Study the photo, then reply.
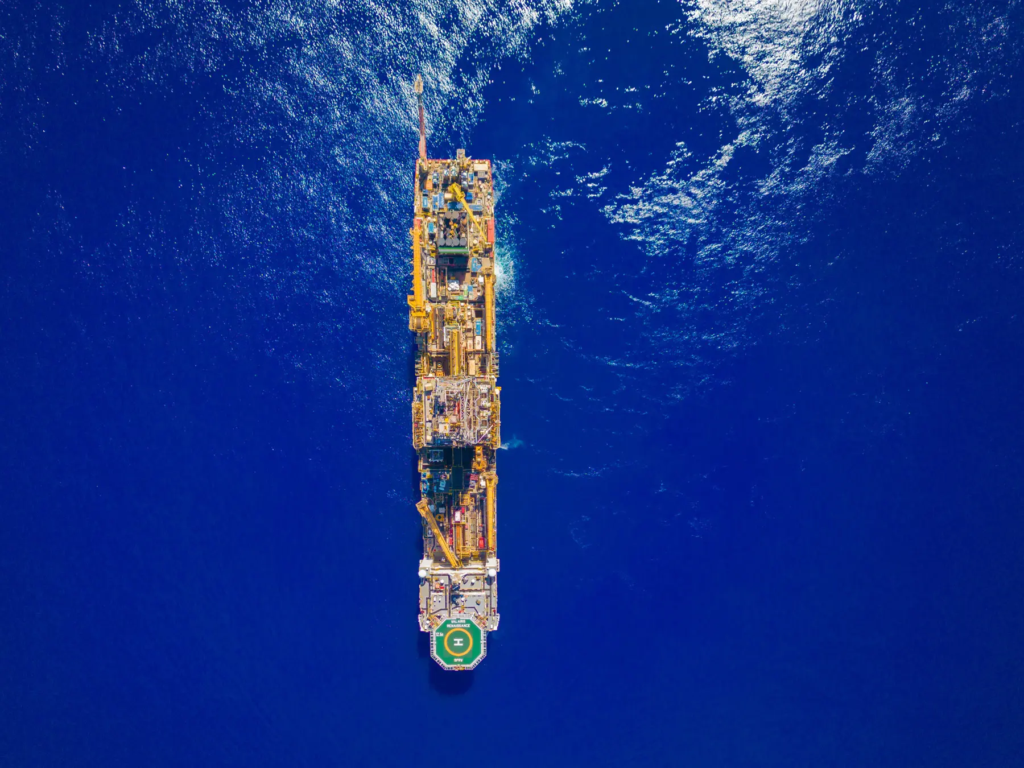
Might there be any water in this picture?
Yes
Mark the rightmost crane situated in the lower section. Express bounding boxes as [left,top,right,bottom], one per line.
[480,473,498,551]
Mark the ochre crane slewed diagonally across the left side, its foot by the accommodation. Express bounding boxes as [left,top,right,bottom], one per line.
[416,498,464,570]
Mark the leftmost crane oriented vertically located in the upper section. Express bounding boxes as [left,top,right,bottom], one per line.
[408,224,432,333]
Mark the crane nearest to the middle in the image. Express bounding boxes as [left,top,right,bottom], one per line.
[478,273,496,351]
